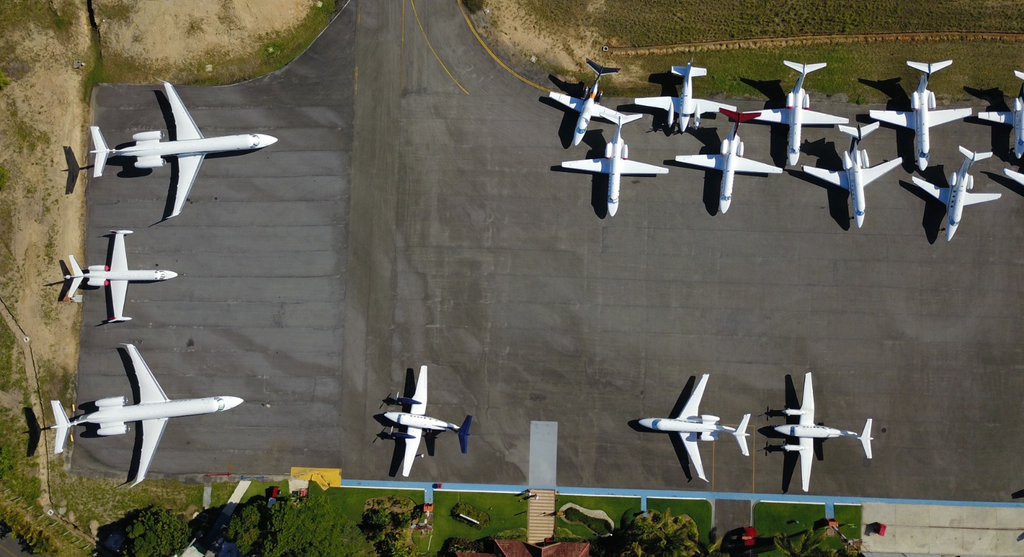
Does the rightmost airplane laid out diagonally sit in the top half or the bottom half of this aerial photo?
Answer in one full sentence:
The top half of the photo is where the rightmost airplane laid out diagonally is.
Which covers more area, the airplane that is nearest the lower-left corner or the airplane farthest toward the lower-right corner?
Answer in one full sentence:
The airplane farthest toward the lower-right corner is smaller than the airplane that is nearest the lower-left corner.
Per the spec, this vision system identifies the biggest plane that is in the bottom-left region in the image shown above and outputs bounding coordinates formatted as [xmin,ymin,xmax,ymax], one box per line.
[50,346,244,486]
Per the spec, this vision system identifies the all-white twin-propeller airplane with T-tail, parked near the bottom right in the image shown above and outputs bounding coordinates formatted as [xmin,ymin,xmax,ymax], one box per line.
[774,372,874,491]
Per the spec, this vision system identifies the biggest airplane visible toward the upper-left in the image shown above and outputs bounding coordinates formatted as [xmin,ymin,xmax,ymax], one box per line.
[86,78,278,219]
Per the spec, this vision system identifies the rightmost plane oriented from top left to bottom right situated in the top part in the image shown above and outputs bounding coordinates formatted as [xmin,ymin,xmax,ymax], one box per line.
[1004,164,1024,187]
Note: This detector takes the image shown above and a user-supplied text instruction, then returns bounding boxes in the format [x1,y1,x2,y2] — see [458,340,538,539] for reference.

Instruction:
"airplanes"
[805,122,907,228]
[870,59,973,170]
[86,78,278,219]
[1004,164,1024,187]
[562,111,669,216]
[384,364,473,476]
[549,58,626,145]
[774,372,874,491]
[639,375,752,483]
[915,146,1004,241]
[66,232,178,319]
[743,60,850,167]
[50,346,244,486]
[677,107,783,213]
[635,57,738,131]
[975,69,1024,158]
